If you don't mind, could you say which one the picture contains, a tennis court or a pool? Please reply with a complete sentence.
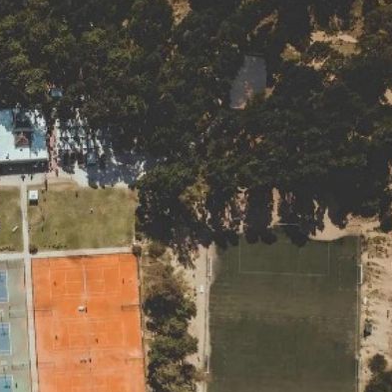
I can see a tennis court in this picture.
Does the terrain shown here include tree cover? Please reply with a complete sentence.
Yes, some tree cover is visible.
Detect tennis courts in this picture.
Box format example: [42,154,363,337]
[38,359,145,392]
[31,253,139,310]
[34,305,143,364]
[0,311,30,366]
[0,260,26,312]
